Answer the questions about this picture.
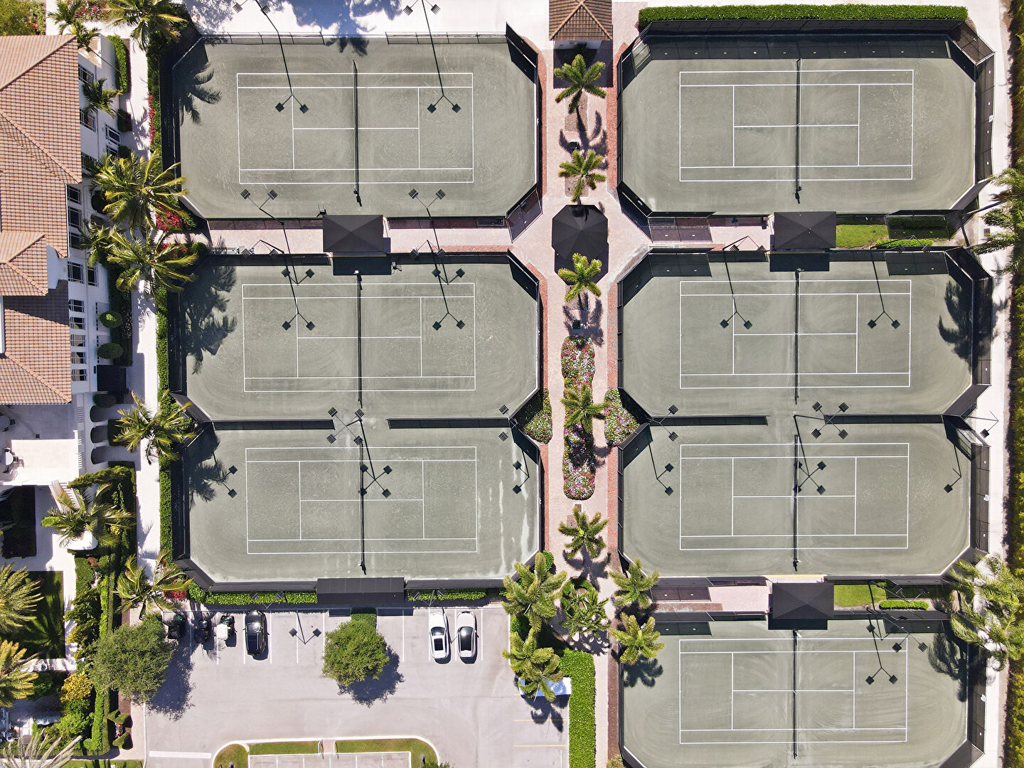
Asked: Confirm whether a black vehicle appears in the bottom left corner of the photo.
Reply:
Yes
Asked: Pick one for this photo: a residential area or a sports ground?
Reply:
sports ground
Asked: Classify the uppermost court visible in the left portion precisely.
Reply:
tennis court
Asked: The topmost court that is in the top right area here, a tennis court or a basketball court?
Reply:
tennis court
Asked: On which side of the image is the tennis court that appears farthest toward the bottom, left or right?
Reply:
right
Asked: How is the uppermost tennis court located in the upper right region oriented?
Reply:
horizontally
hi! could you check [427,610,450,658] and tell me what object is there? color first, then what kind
white car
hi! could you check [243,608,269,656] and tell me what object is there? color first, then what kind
black car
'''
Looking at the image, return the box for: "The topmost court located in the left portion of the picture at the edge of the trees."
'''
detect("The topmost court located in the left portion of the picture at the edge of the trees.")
[174,35,537,216]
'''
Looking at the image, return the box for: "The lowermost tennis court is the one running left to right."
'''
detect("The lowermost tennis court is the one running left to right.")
[622,616,968,768]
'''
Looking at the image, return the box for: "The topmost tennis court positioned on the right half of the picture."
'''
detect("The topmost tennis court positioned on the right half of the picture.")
[618,35,976,218]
